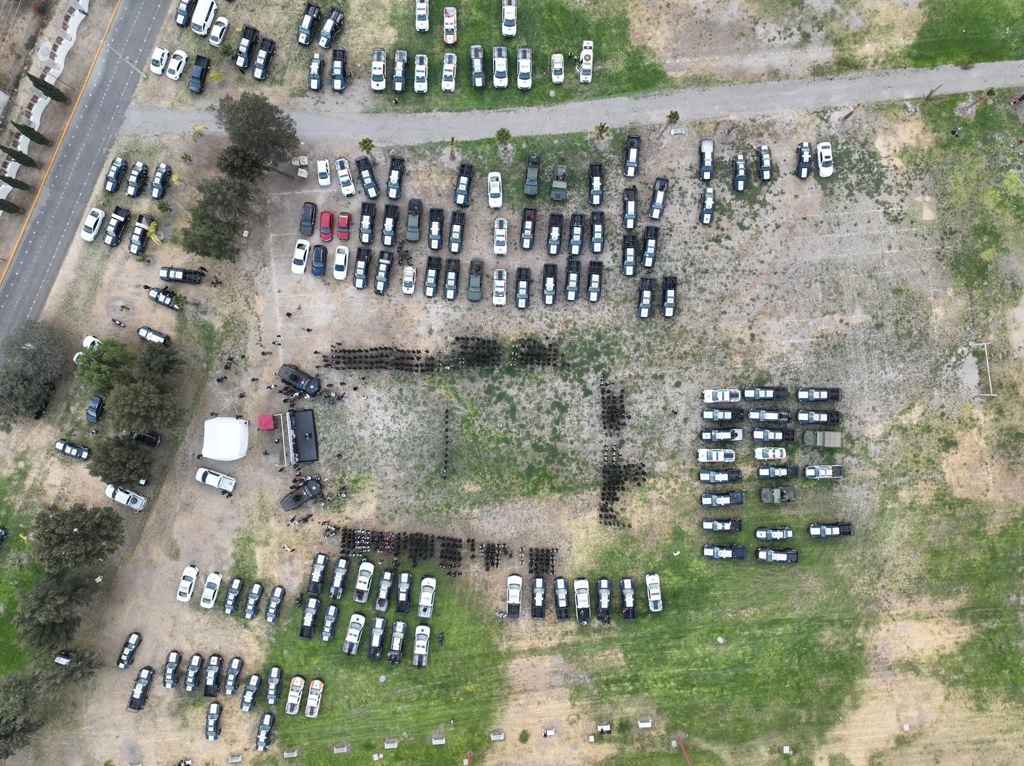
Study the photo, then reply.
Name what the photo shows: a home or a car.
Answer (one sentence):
Looking from above, you can make out a car.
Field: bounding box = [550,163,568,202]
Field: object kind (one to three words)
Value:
vehicle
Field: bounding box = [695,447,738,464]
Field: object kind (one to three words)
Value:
vehicle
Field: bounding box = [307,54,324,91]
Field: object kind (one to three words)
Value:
car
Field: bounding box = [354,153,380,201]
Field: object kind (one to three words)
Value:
truck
